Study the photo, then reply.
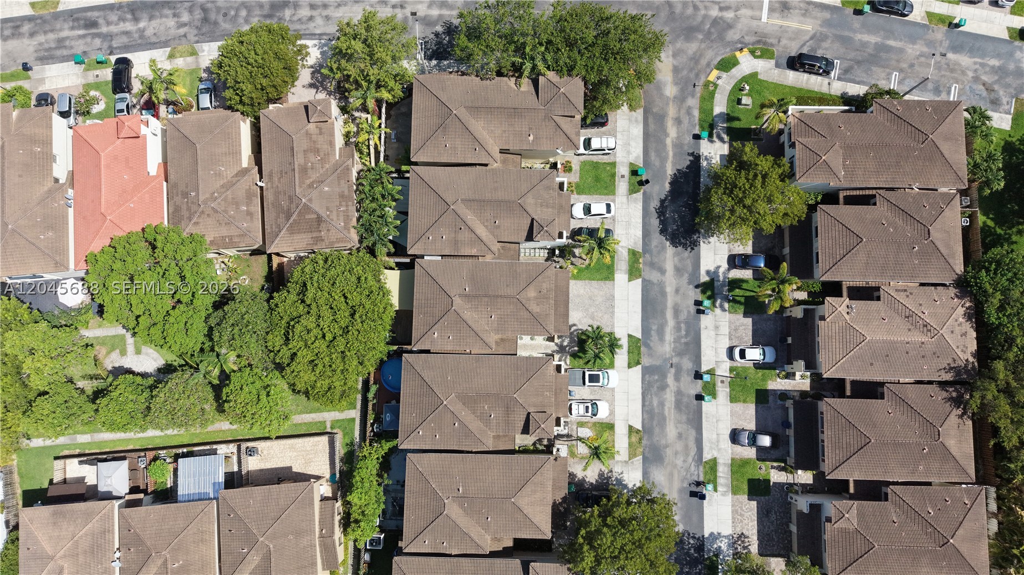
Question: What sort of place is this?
residential area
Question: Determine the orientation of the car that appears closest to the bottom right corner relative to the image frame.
horizontally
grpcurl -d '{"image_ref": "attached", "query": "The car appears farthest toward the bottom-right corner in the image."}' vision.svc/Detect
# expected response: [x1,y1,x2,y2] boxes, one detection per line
[731,428,776,450]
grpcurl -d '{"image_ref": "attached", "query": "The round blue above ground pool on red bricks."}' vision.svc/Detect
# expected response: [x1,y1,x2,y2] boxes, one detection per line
[379,352,405,396]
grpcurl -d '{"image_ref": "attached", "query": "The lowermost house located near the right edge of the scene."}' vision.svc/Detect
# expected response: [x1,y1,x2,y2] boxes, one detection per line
[775,480,992,575]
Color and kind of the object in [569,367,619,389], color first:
white truck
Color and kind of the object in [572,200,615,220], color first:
white car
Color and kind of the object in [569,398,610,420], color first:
white car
